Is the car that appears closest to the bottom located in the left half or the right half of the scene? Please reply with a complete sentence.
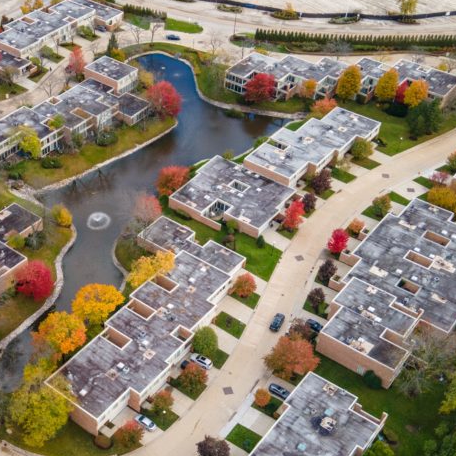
The car that appears closest to the bottom is on the left side of the image.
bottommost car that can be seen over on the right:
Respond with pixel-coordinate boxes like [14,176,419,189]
[267,382,292,400]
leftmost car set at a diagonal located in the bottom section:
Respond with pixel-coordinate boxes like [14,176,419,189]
[133,413,158,433]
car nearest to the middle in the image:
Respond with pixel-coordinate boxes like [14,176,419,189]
[271,312,284,331]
